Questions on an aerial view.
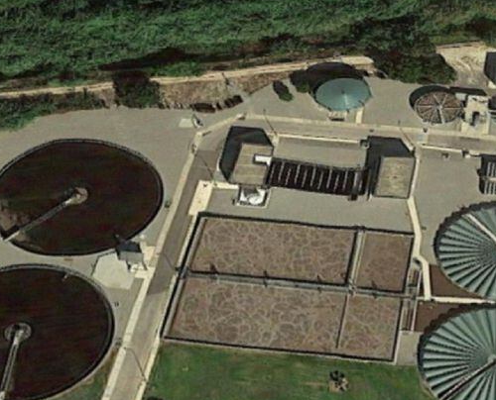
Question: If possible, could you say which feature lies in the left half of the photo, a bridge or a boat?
bridge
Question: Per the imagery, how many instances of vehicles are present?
0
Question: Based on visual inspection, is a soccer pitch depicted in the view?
No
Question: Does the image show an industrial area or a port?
industrial area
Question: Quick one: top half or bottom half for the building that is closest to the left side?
bottom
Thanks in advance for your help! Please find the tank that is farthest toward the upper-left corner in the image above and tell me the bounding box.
[0,136,163,258]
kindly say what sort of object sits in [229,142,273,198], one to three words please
building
